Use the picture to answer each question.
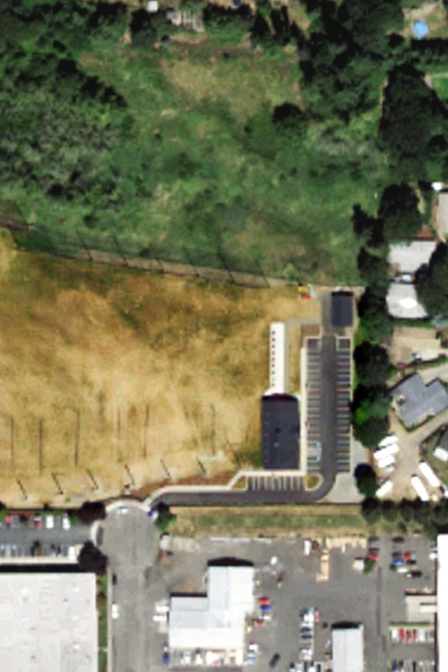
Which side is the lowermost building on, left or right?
right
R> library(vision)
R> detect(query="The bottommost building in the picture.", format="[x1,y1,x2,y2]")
[332,628,364,672]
